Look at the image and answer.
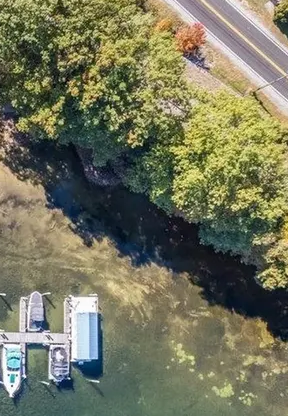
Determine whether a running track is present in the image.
No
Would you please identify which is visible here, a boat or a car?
boat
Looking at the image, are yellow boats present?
No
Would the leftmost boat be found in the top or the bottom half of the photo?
bottom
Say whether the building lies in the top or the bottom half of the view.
bottom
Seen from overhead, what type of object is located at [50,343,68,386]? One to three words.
boat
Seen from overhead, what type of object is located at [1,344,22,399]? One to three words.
boat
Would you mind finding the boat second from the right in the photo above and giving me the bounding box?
[26,292,44,331]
